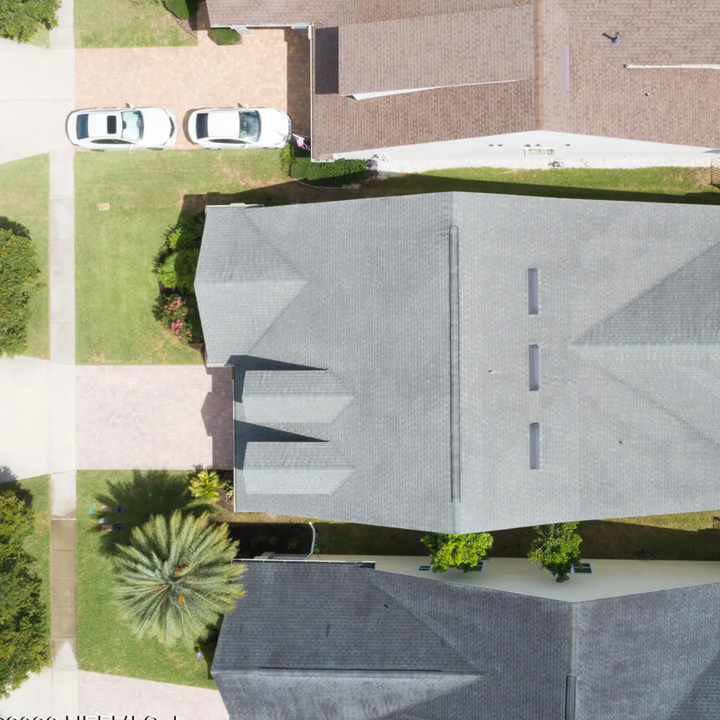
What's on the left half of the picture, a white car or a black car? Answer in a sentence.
There is a white car on the left half of the picture.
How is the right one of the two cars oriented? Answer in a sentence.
In this picture, the right one of the two cars is oriented from left to right.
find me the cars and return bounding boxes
[187,106,293,151]
[68,106,179,151]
